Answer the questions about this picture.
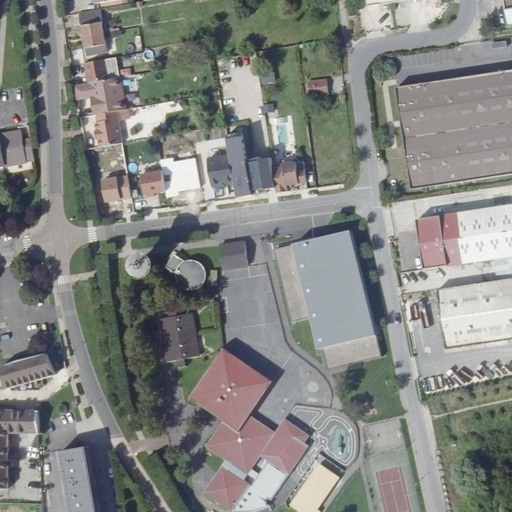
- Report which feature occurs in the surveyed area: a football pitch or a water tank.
water tank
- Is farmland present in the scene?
No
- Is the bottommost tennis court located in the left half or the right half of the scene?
right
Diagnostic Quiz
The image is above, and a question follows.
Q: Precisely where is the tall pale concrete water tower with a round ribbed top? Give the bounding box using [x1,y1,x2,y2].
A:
[122,250,154,278]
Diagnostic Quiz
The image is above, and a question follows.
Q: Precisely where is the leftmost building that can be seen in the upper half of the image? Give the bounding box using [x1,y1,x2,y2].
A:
[0,130,34,172]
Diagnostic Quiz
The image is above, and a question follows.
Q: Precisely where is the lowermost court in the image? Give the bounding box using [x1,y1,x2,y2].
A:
[369,448,423,512]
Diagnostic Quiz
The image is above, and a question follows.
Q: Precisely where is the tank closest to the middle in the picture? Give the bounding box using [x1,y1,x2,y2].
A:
[166,242,206,289]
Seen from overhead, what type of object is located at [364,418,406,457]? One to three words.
basketball court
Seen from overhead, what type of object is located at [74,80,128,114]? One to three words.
house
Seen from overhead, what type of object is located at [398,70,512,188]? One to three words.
warehouse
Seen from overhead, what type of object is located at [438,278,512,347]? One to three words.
building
